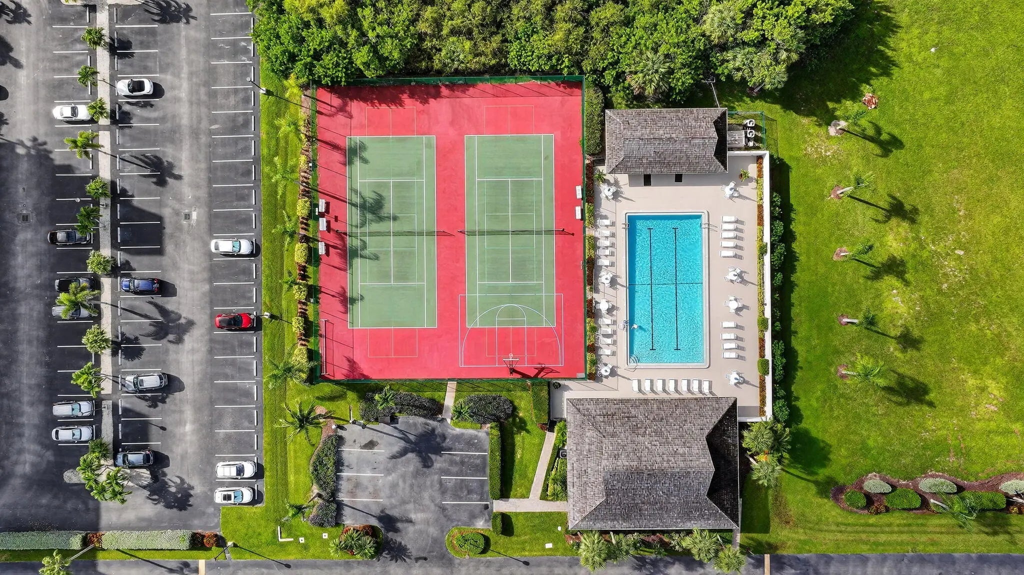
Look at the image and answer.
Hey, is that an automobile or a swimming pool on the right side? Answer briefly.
swimming pool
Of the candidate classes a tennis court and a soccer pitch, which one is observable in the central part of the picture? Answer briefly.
tennis court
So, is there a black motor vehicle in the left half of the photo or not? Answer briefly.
Yes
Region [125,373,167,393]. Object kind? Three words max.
car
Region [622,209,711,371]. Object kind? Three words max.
swimming pool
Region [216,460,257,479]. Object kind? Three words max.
car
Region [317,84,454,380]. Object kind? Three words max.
tennis court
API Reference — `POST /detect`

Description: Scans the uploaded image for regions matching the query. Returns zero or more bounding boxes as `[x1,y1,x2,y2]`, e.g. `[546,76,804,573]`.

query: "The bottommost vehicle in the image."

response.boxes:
[214,486,254,505]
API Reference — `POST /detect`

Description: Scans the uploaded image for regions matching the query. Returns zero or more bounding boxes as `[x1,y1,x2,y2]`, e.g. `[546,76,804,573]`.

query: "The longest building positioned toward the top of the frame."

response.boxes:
[605,107,729,174]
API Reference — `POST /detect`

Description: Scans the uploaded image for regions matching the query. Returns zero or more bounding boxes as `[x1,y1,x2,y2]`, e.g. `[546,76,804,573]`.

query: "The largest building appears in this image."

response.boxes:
[567,397,739,530]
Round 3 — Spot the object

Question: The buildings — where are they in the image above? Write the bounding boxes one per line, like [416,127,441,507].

[567,397,739,530]
[605,107,729,174]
